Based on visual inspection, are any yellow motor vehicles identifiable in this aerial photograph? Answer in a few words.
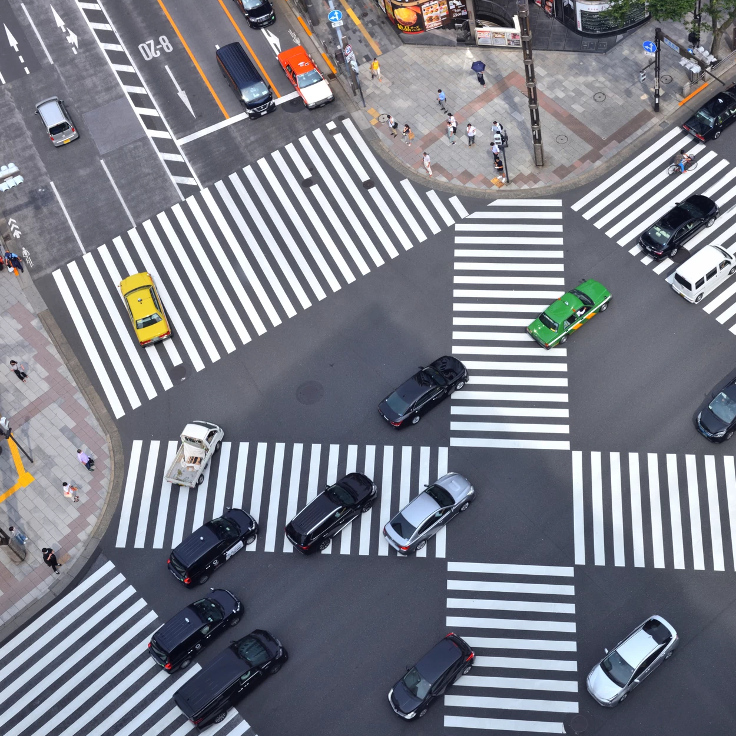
Yes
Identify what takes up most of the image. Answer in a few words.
paved ground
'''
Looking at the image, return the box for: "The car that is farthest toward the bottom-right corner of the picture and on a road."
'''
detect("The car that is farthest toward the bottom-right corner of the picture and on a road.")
[589,615,680,708]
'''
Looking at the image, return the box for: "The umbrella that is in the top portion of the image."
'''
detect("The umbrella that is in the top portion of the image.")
[471,59,489,71]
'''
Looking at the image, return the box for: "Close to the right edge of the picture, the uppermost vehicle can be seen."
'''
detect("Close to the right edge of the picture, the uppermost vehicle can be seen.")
[684,86,736,144]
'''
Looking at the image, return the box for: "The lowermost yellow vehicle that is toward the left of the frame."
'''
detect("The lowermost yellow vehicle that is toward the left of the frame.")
[122,270,171,348]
